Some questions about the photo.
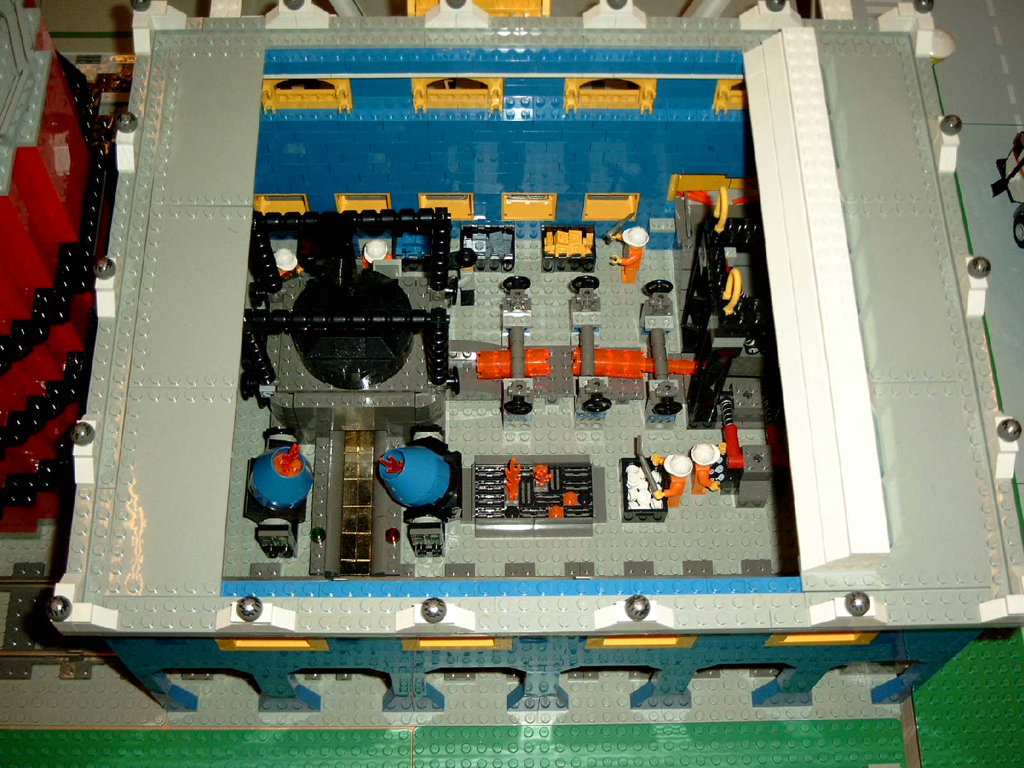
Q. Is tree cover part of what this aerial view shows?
No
